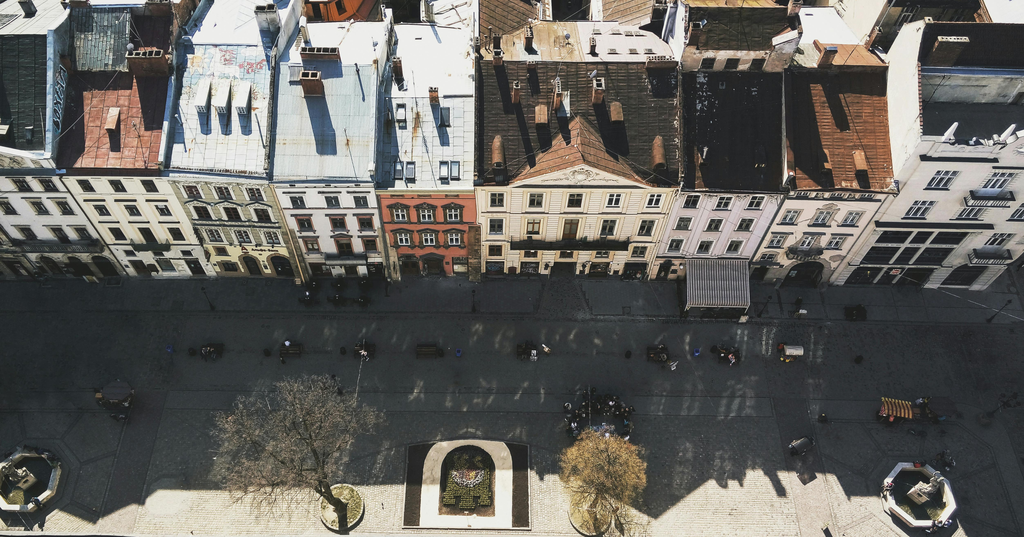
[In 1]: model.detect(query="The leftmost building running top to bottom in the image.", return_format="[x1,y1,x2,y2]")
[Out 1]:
[0,0,129,279]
